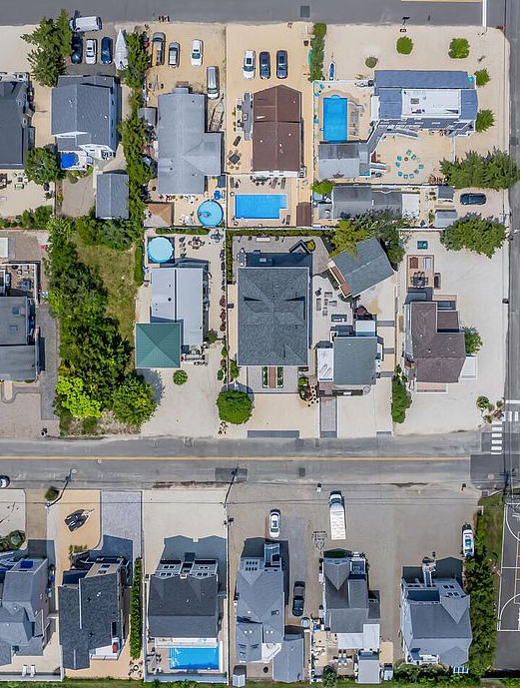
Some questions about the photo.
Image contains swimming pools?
Yes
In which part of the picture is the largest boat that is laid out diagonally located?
bottom left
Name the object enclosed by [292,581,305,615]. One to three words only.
vehicle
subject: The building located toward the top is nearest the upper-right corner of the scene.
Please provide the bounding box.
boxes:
[368,70,479,149]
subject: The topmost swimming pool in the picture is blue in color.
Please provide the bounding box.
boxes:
[322,95,349,142]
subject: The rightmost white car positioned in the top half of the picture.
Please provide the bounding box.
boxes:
[243,50,256,78]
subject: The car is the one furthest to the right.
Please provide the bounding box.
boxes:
[459,192,486,204]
